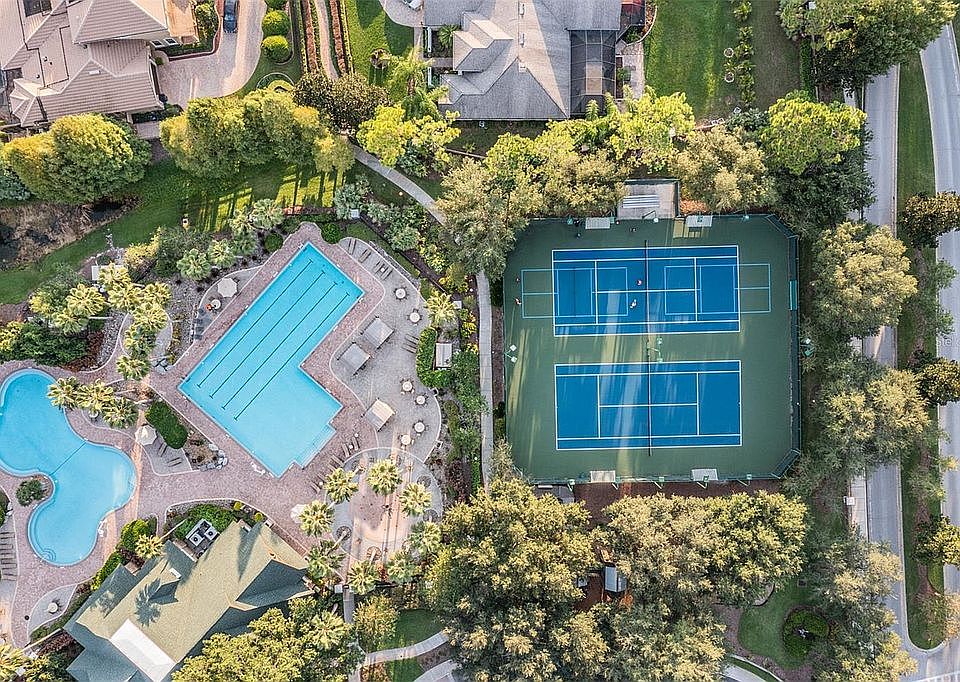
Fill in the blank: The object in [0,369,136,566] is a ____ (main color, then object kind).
blue swimming pool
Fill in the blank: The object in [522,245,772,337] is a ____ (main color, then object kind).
blue tennis court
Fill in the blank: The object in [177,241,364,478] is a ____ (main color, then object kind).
blue swimming pool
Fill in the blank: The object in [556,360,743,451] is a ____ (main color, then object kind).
blue tennis court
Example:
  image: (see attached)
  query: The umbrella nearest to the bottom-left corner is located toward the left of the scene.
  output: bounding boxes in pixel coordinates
[134,424,157,447]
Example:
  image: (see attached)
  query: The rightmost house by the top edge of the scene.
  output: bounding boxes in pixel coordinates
[424,0,620,123]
